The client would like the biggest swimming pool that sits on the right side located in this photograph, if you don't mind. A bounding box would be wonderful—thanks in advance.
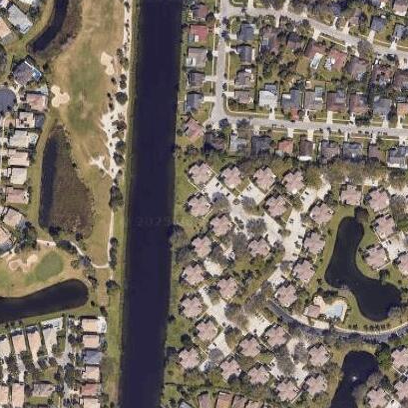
[313,295,347,320]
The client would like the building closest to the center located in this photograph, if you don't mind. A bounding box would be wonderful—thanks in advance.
[184,191,212,218]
